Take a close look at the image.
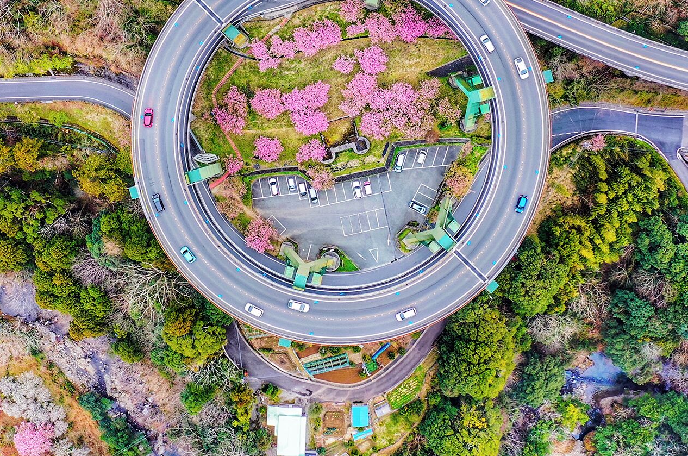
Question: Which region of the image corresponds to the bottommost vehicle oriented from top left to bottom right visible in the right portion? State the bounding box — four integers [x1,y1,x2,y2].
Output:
[408,200,426,215]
